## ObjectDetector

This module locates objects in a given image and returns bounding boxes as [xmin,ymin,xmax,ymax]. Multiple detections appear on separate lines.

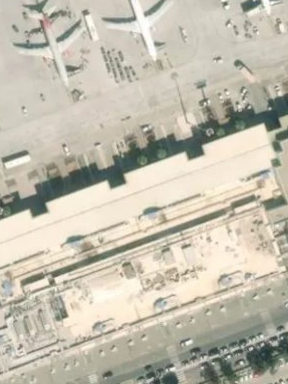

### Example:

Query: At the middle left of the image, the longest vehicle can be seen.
[2,152,31,168]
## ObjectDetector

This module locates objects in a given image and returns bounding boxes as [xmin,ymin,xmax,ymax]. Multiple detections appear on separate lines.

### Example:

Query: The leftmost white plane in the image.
[19,5,84,85]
